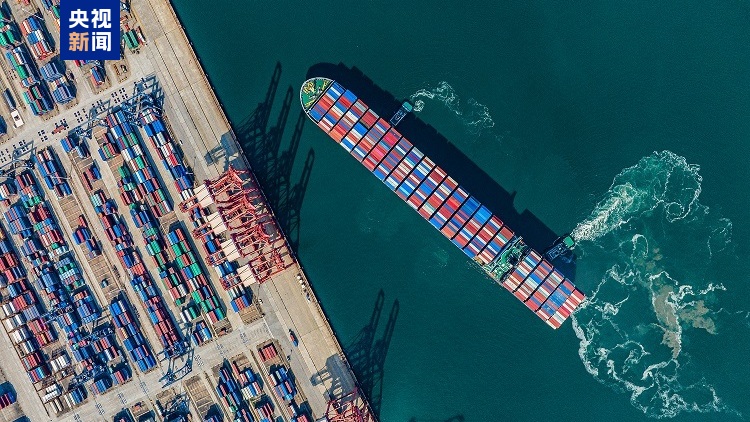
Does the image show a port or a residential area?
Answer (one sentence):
It's a port.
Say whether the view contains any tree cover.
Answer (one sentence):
No, tree cover can't be seen anywhere here.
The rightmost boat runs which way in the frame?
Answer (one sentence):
I'd say the rightmost boat is aligned at an angle in the picture.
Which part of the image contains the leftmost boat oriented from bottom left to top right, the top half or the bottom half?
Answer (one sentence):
Seen from above, the leftmost boat oriented from bottom left to top right lies in the top half of the view.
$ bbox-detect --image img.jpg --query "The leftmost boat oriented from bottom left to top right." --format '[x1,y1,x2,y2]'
[391,100,412,127]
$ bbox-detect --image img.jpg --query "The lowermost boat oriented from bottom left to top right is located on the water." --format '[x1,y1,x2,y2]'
[546,235,575,259]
